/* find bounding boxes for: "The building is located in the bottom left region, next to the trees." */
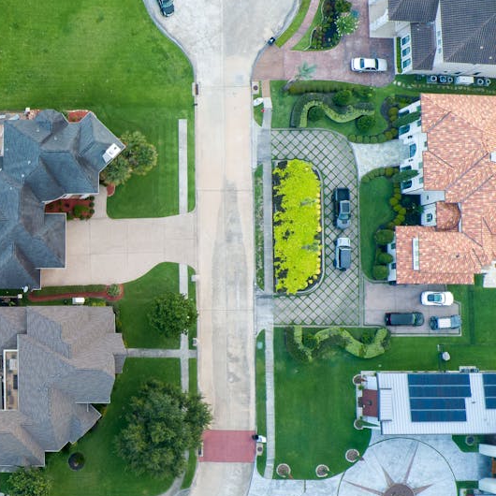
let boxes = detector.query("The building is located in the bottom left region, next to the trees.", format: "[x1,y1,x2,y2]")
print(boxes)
[0,305,126,467]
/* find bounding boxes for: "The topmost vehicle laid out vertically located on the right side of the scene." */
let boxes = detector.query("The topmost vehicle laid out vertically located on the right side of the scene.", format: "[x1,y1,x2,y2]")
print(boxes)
[332,187,352,228]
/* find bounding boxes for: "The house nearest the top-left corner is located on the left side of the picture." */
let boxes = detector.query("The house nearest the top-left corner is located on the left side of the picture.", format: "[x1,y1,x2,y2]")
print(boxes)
[0,109,126,290]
